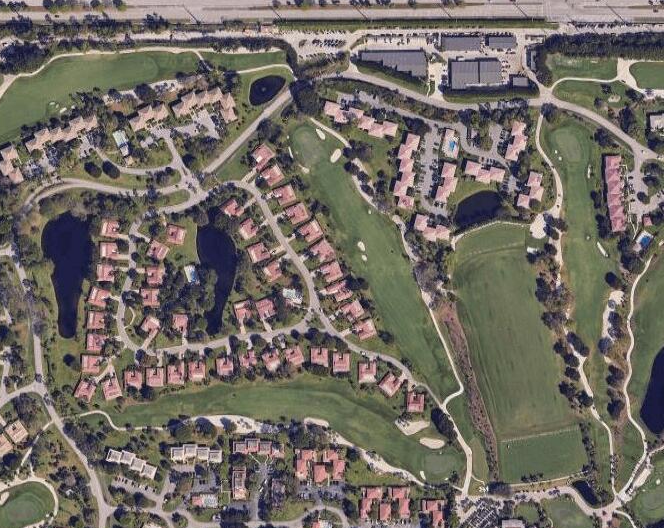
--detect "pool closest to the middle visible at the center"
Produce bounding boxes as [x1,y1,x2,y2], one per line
[282,290,302,305]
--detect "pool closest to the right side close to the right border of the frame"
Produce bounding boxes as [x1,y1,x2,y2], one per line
[636,229,656,253]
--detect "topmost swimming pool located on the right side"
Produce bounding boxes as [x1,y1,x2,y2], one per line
[444,130,460,158]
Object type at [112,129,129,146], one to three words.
swimming pool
